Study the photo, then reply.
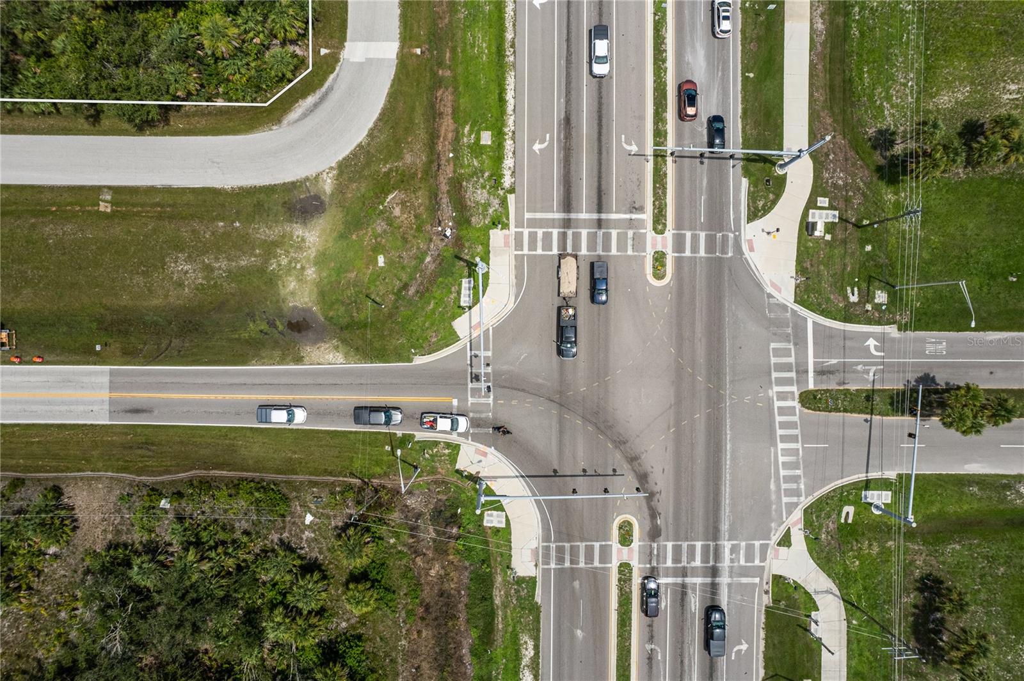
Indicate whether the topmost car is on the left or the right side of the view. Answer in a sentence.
The topmost car sits on the right side.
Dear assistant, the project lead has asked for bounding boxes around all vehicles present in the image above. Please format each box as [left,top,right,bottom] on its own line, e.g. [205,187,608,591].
[707,115,728,155]
[589,23,612,79]
[712,0,734,39]
[556,306,579,359]
[419,412,470,435]
[352,405,404,428]
[589,260,611,305]
[705,604,729,658]
[640,574,662,618]
[678,80,700,122]
[0,329,19,350]
[255,404,308,427]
